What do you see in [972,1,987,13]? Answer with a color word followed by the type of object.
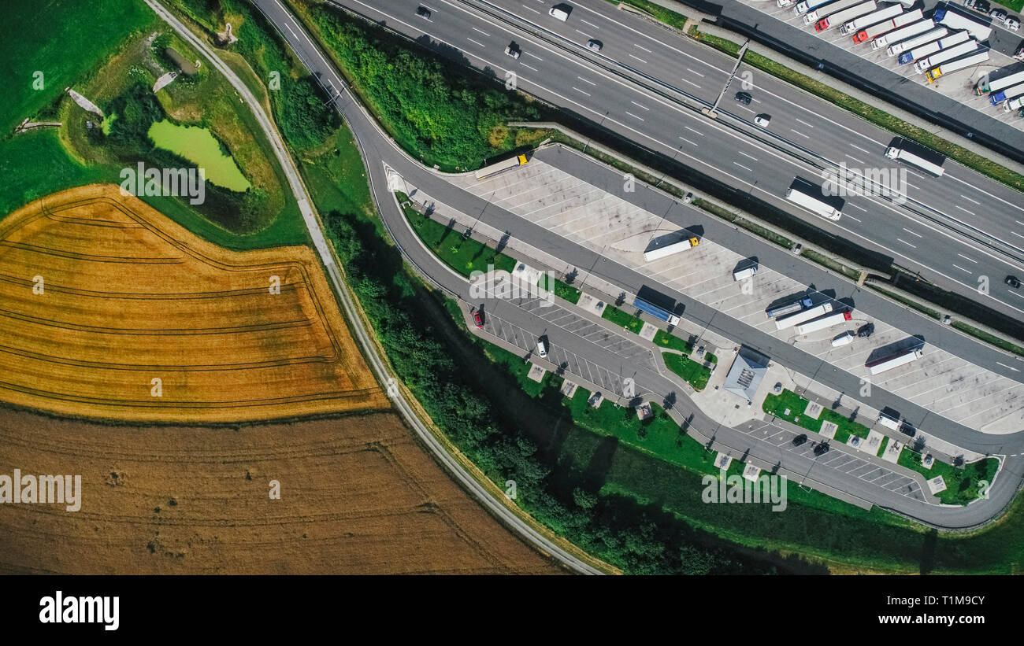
black vehicle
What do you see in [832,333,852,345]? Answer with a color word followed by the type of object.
white vehicle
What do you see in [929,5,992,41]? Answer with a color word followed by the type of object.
white truck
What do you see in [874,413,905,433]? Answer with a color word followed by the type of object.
white vehicle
